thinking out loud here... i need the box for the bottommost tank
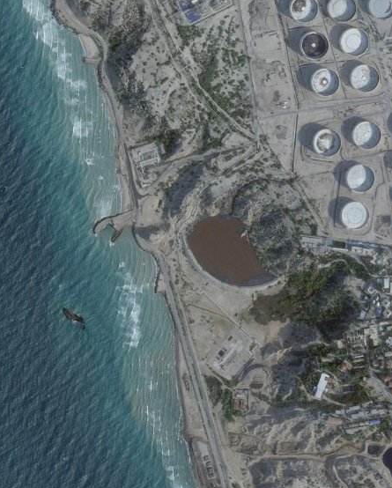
[340,201,368,233]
